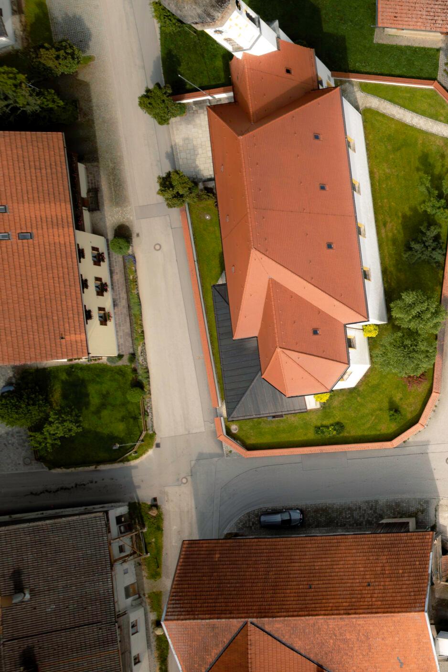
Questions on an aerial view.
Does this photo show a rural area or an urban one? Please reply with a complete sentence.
It looks urban.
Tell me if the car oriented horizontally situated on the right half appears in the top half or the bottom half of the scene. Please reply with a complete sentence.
The bottom half of the photo is where the car oriented horizontally situated on the right half is.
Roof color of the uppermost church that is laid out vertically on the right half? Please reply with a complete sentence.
The color of the roof on the uppermost church that is laid out vertically on the right half is orange.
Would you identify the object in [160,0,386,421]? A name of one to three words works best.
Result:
church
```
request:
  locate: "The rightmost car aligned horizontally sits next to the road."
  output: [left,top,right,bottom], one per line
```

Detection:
[258,506,307,529]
